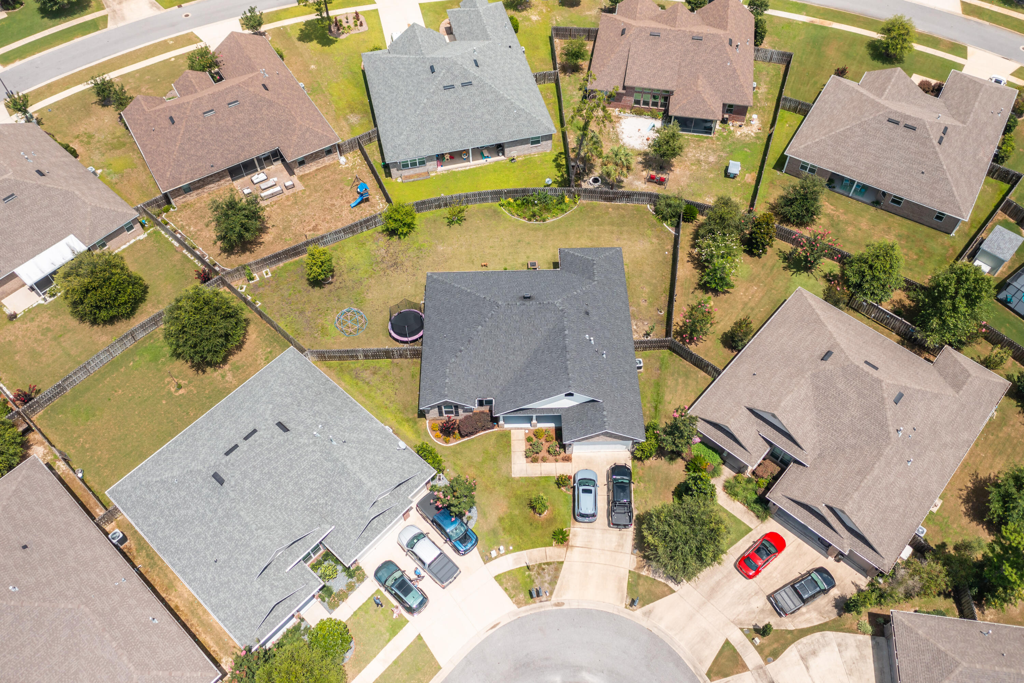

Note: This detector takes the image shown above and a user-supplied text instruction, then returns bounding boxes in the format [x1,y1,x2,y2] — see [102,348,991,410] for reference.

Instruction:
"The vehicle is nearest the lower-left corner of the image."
[375,560,430,617]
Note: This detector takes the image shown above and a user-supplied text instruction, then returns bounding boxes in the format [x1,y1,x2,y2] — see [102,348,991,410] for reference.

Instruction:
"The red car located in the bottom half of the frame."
[736,530,791,582]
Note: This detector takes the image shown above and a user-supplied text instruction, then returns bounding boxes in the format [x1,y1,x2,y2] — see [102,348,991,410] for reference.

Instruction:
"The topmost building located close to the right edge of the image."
[782,69,1020,238]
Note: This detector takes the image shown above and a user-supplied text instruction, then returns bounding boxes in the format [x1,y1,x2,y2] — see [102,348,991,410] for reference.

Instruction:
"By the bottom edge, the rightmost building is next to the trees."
[885,608,1024,683]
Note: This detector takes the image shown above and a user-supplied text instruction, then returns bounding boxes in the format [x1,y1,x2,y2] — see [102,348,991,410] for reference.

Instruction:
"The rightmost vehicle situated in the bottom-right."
[768,565,843,623]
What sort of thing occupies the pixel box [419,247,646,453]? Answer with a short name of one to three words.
house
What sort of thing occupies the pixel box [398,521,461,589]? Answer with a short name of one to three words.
truck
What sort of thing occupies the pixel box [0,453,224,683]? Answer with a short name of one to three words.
house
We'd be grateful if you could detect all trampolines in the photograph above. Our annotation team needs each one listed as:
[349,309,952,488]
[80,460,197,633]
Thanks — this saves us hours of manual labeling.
[385,295,425,343]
